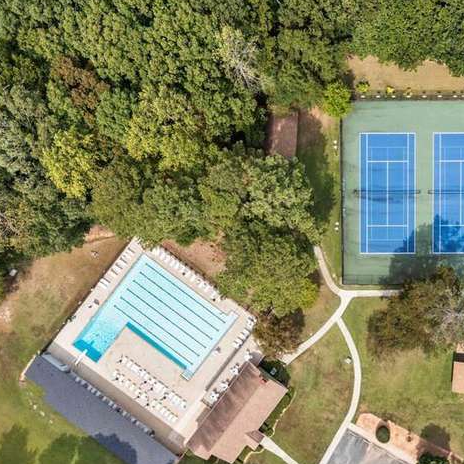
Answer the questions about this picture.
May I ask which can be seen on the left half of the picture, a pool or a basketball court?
pool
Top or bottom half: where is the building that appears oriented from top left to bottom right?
bottom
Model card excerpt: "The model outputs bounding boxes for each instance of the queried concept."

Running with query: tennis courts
[424,99,464,284]
[341,99,425,284]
